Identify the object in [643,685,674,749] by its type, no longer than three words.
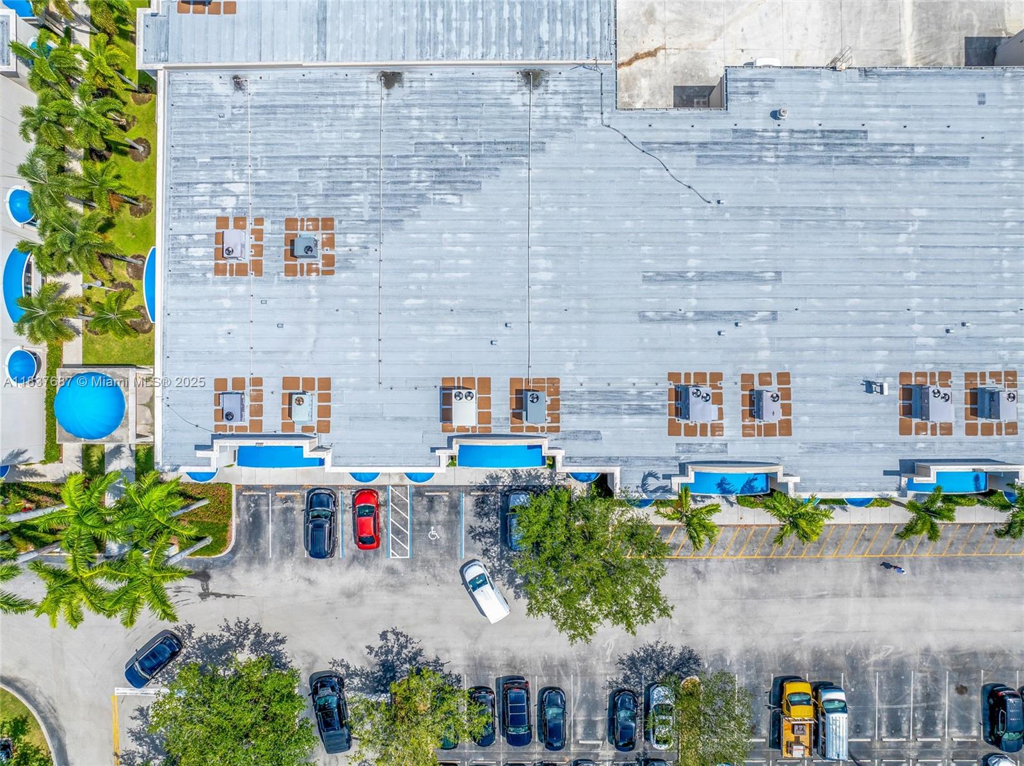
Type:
car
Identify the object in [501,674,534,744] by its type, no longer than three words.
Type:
car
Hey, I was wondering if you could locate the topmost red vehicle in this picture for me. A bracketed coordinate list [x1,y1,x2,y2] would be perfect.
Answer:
[350,489,381,550]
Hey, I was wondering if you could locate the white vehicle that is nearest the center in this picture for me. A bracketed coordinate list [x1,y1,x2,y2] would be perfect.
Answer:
[463,558,509,627]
